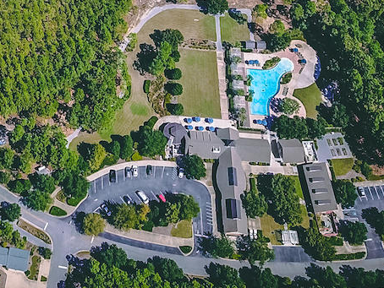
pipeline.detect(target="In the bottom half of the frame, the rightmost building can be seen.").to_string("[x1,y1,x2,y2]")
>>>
[302,161,338,215]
